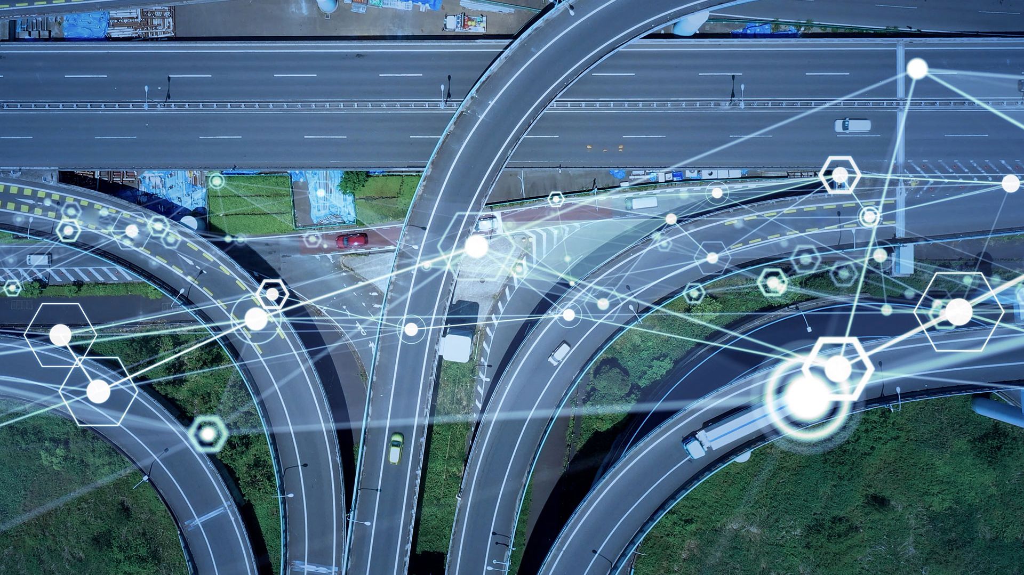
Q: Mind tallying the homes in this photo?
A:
0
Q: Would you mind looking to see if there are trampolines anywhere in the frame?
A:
No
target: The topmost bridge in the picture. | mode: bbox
[0,37,1024,238]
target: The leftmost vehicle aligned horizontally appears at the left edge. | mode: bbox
[26,253,53,266]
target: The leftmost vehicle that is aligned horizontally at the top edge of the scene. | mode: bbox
[444,12,487,33]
